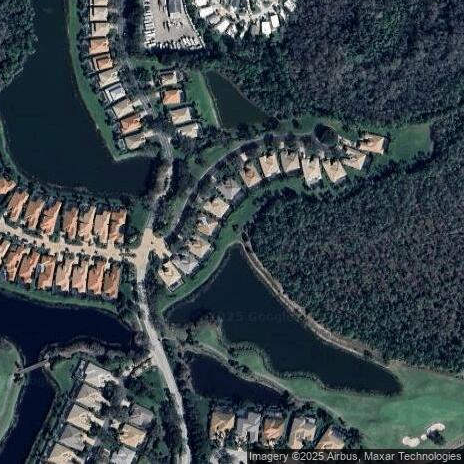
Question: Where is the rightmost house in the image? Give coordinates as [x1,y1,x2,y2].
[361,133,389,152]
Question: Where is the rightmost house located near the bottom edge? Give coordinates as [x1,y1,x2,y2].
[313,422,349,456]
